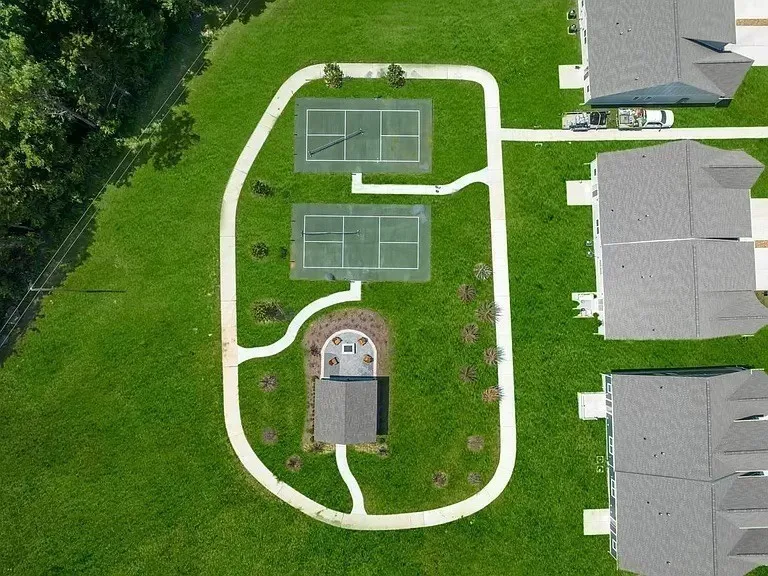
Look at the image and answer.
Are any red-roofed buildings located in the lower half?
No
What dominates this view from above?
grass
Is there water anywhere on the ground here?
No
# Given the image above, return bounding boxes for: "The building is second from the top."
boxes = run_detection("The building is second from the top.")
[586,140,768,340]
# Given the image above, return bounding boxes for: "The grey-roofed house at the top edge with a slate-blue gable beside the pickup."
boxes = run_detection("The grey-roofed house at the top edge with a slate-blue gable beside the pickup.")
[580,0,752,105]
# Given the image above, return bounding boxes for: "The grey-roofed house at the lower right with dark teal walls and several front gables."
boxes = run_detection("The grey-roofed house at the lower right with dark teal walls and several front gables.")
[599,370,768,576]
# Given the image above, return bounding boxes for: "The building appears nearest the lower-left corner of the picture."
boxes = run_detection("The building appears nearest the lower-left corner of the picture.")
[315,380,376,445]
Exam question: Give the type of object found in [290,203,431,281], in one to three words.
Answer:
sports court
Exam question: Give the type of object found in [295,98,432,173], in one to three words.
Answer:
sports court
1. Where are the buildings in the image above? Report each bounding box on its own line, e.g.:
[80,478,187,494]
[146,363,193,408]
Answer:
[315,380,376,445]
[586,140,768,340]
[580,0,752,105]
[599,370,768,576]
